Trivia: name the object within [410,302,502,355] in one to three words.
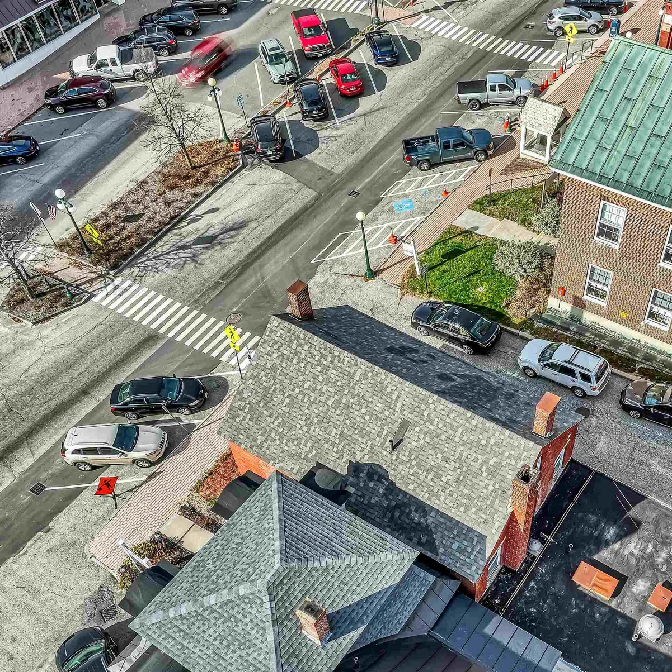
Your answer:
car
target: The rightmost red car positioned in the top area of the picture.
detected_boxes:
[327,59,366,97]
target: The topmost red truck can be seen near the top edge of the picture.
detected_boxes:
[290,7,333,58]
